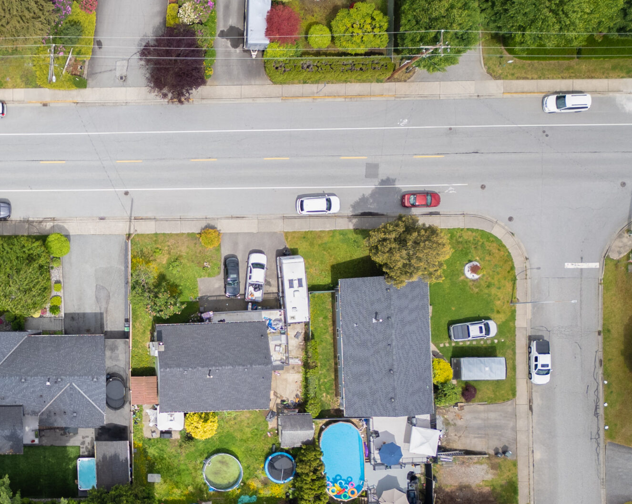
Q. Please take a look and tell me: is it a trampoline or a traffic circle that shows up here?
trampoline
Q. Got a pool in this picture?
Yes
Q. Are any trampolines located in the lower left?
Yes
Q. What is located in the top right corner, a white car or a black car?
white car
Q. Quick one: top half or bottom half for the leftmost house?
bottom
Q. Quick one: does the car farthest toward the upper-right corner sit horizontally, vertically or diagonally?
horizontally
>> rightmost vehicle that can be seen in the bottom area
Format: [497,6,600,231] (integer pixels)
[527,340,552,384]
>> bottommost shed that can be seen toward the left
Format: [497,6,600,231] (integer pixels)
[94,440,130,492]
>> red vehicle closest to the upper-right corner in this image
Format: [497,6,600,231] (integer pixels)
[399,191,440,209]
